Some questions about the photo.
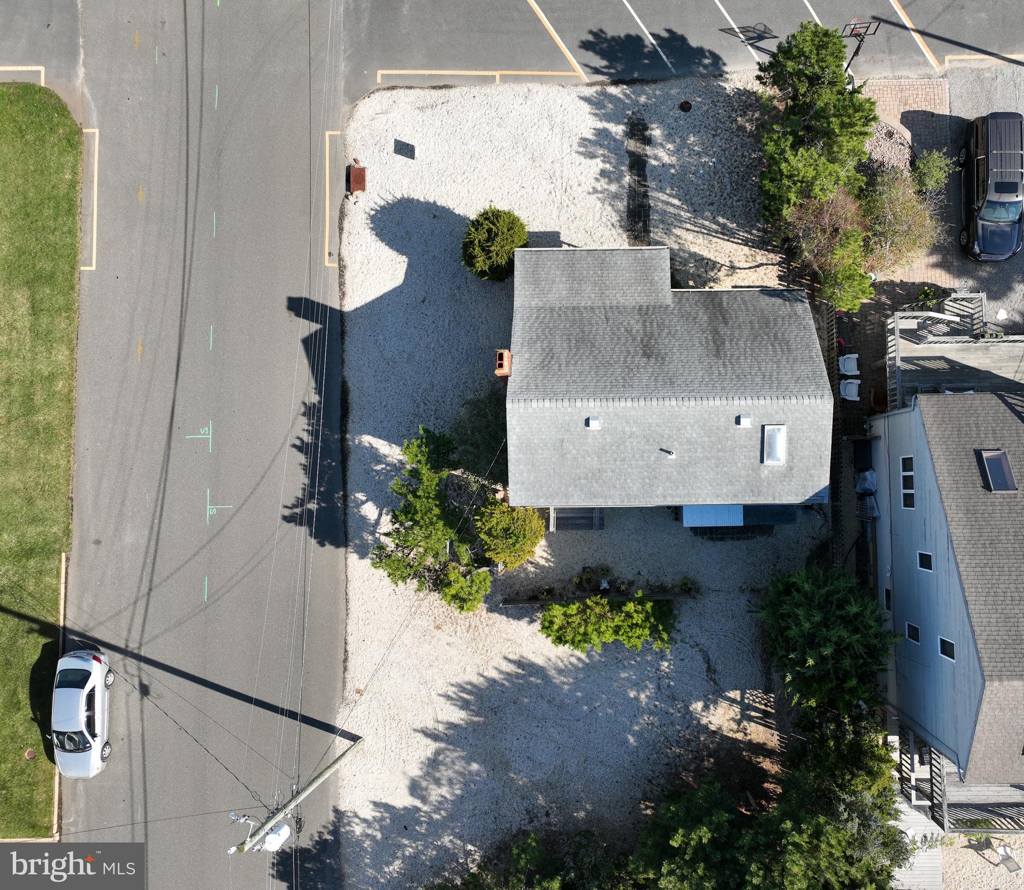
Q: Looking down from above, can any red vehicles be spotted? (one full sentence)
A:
No, there is no red vehicle in the image.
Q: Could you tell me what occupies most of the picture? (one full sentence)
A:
Most of the picture is covered by paved ground.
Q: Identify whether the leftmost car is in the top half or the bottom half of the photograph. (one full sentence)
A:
Seen from above, the leftmost car lies in the bottom half of the view.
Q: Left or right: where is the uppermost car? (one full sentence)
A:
The uppermost car is on the right side of the image.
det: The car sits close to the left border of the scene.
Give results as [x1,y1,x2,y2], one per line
[43,647,117,777]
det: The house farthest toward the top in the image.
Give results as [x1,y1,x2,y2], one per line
[496,245,834,507]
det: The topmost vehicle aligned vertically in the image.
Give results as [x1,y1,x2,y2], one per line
[960,114,1024,267]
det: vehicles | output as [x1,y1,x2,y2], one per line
[960,114,1024,267]
[43,647,117,777]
